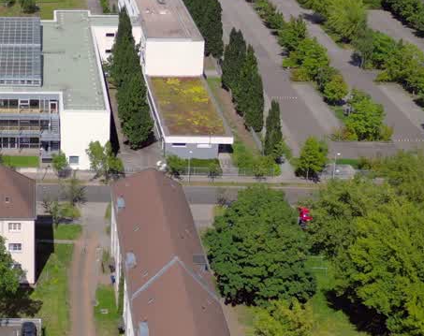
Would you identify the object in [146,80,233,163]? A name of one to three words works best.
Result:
building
